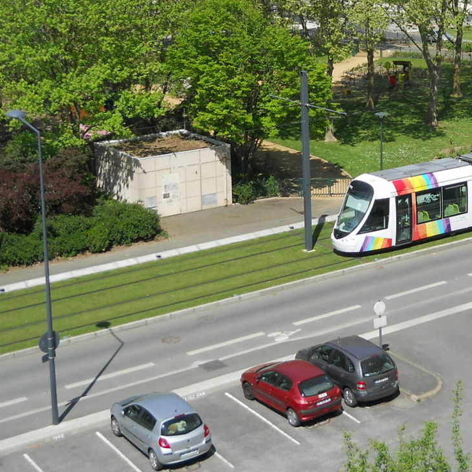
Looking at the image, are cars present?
Yes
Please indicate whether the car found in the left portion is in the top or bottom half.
bottom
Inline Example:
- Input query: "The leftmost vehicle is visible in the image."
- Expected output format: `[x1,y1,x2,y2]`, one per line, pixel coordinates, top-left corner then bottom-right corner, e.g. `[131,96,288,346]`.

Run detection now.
[110,389,219,470]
